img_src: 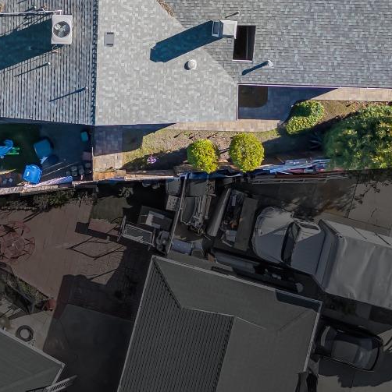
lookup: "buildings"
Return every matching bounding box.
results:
[117,250,325,392]
[0,0,392,125]
[0,314,67,392]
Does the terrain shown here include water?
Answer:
No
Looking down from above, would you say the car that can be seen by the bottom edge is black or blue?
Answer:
black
